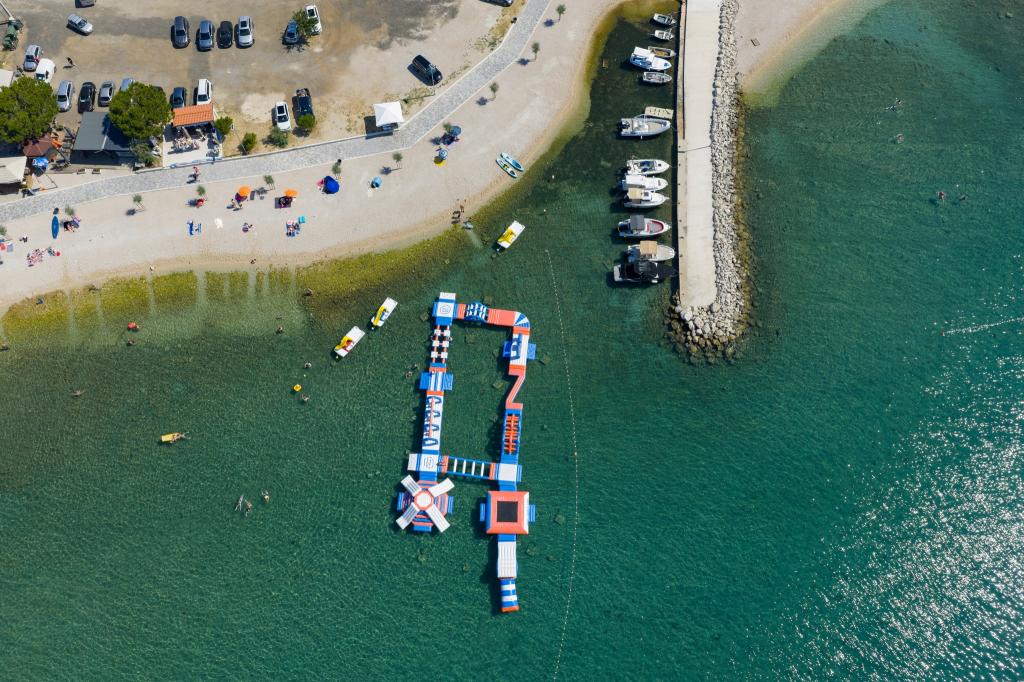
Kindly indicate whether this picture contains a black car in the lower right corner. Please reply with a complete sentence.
No, no black car can be made out in the lower right corner.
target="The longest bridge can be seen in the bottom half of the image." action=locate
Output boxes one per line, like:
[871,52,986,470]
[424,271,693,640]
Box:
[448,455,497,481]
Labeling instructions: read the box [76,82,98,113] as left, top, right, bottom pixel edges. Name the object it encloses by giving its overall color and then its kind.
black car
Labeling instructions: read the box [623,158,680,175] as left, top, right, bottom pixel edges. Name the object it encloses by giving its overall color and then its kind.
white boat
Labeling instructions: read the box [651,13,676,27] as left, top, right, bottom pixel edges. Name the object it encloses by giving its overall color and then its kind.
gray boat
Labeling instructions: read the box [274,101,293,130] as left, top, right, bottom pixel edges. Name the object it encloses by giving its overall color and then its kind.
white car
